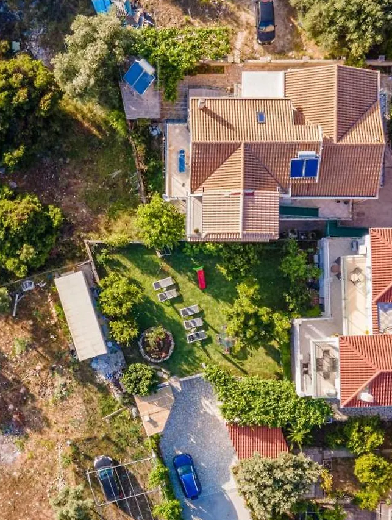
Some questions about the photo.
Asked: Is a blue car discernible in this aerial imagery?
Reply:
Yes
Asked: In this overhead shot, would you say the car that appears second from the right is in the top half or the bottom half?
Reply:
bottom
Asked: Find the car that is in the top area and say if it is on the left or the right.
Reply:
right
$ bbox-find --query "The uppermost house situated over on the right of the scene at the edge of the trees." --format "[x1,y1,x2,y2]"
[165,64,392,243]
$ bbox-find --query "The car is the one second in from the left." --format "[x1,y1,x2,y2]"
[171,451,201,502]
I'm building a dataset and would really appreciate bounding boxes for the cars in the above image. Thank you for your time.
[171,451,201,502]
[95,454,123,506]
[255,0,279,49]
